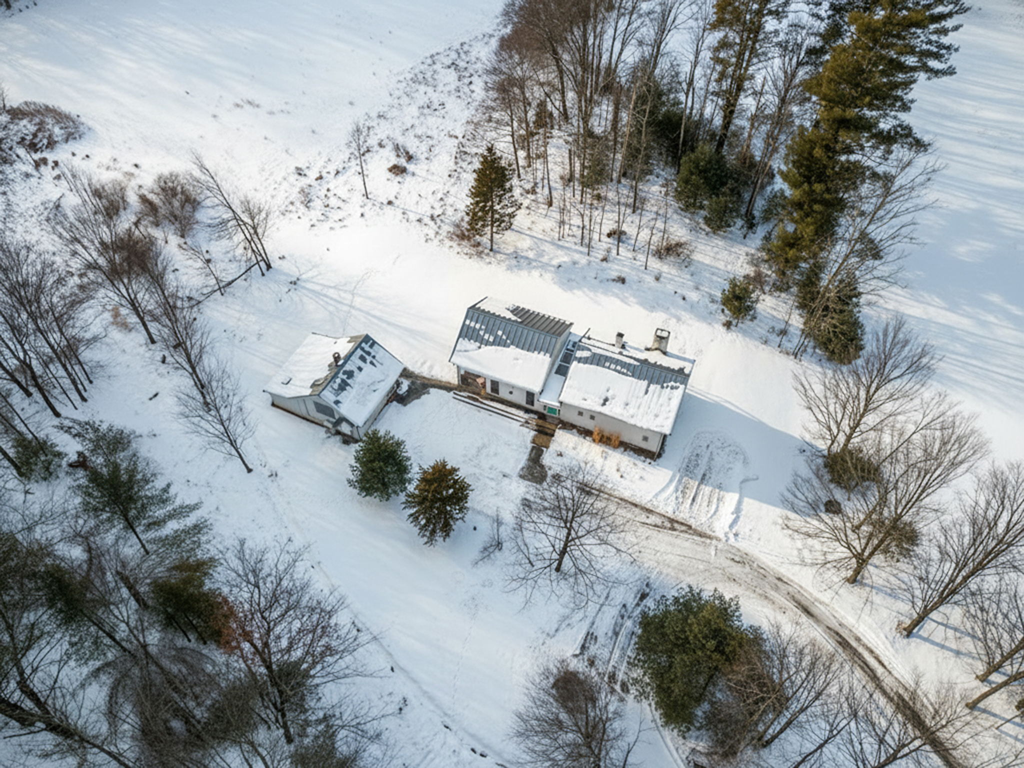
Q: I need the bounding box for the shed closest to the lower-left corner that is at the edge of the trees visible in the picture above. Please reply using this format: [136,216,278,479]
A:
[261,334,404,441]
